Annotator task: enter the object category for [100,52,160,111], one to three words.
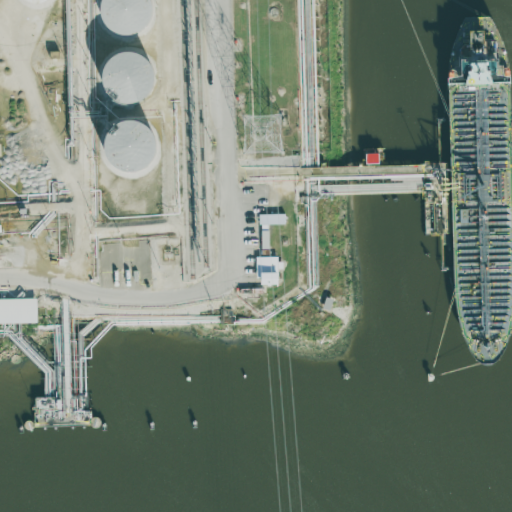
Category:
storage tank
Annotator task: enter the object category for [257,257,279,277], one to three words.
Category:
building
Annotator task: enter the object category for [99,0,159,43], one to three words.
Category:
storage tank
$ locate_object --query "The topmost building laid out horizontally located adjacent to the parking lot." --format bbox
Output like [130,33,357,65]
[260,214,286,226]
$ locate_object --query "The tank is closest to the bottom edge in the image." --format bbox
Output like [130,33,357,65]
[102,118,162,178]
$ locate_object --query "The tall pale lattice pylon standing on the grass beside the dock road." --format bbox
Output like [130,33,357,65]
[243,114,284,154]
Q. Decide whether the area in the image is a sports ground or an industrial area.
industrial area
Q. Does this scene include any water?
Yes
